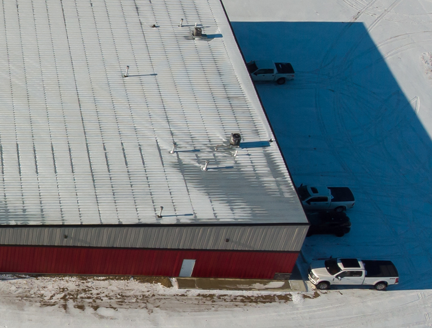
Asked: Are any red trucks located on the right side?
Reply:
No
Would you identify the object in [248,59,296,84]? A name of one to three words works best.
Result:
truck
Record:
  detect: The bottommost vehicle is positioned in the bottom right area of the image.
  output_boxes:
[309,259,397,292]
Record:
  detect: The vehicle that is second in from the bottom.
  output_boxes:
[306,210,353,238]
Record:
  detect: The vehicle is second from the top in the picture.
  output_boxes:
[298,184,358,213]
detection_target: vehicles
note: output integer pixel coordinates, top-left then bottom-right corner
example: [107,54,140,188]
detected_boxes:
[248,59,296,84]
[298,184,358,213]
[309,259,397,292]
[306,210,353,238]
